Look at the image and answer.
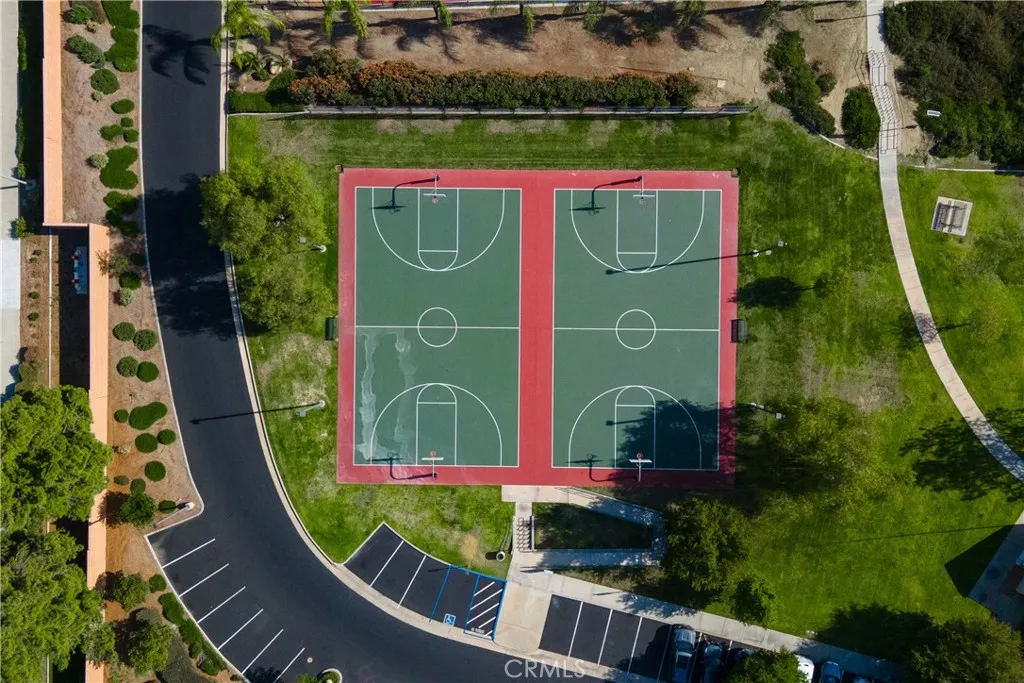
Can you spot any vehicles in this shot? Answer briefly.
Yes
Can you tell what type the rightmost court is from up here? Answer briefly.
basketball court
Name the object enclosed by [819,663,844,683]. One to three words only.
car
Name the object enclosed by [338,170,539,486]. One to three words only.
basketball court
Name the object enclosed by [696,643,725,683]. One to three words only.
car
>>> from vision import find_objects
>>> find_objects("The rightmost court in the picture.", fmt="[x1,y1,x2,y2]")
[536,172,738,489]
